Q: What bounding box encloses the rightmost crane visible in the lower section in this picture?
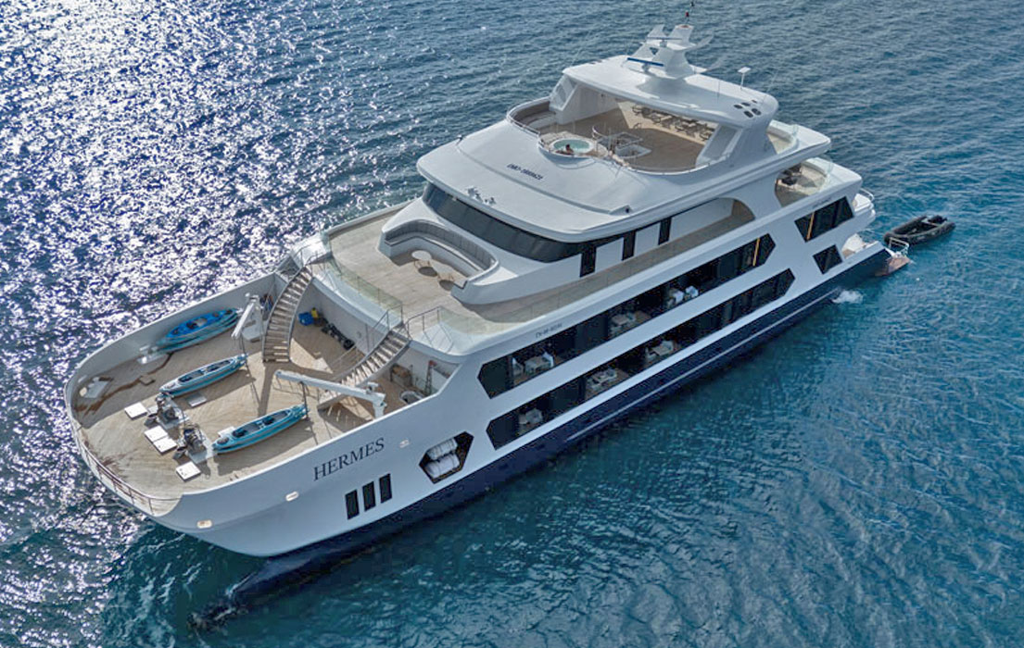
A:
[277,369,397,420]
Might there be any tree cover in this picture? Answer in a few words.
No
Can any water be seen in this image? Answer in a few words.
Yes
